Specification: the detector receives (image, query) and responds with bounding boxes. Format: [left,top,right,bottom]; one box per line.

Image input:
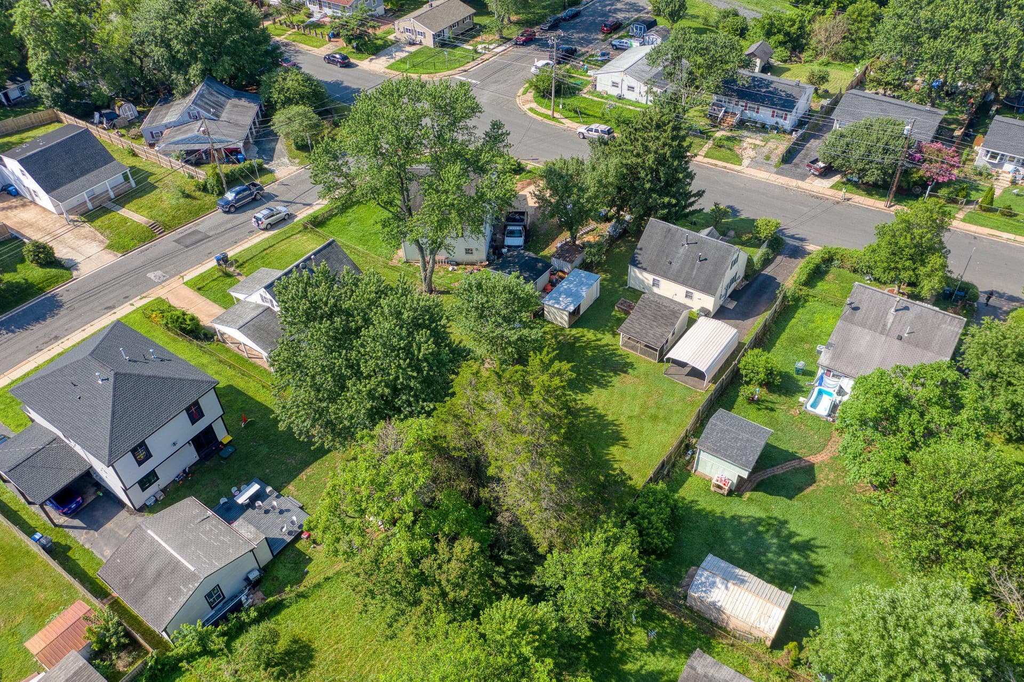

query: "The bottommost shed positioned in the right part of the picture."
[674,639,774,682]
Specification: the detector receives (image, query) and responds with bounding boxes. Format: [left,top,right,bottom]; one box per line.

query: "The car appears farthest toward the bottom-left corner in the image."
[49,488,86,523]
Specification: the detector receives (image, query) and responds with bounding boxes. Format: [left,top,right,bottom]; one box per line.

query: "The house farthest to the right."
[979,115,1024,187]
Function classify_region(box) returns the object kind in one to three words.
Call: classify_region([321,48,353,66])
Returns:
car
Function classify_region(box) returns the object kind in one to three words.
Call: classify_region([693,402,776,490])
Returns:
shed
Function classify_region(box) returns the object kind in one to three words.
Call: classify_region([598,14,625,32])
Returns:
vehicle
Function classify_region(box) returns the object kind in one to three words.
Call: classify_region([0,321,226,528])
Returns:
house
